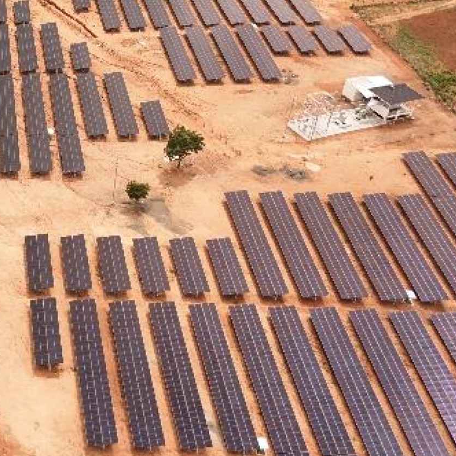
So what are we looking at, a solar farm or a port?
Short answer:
solar farm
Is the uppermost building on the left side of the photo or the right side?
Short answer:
right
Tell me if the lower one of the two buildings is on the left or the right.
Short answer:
right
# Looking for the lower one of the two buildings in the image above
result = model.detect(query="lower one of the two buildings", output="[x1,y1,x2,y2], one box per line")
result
[362,98,398,124]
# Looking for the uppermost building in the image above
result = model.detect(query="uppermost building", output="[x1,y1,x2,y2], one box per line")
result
[343,72,396,108]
